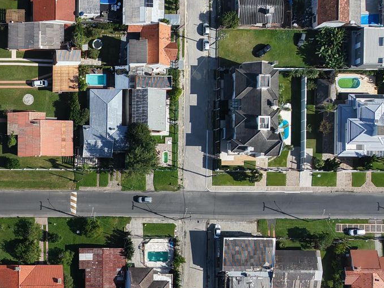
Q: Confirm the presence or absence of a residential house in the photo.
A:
Yes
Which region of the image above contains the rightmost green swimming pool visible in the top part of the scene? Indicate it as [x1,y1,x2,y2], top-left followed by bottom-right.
[336,75,363,90]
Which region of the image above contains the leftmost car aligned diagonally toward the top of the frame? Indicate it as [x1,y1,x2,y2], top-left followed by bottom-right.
[255,45,272,57]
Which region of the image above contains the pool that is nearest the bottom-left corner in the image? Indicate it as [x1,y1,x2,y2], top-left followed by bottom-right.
[147,250,170,262]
